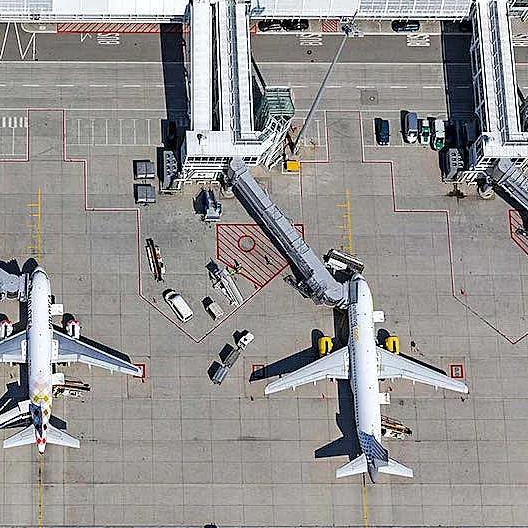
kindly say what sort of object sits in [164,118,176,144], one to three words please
vehicle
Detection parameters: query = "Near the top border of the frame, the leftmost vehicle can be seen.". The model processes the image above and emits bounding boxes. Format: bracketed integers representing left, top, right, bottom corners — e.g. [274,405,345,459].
[257,20,283,32]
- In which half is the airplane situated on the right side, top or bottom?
bottom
